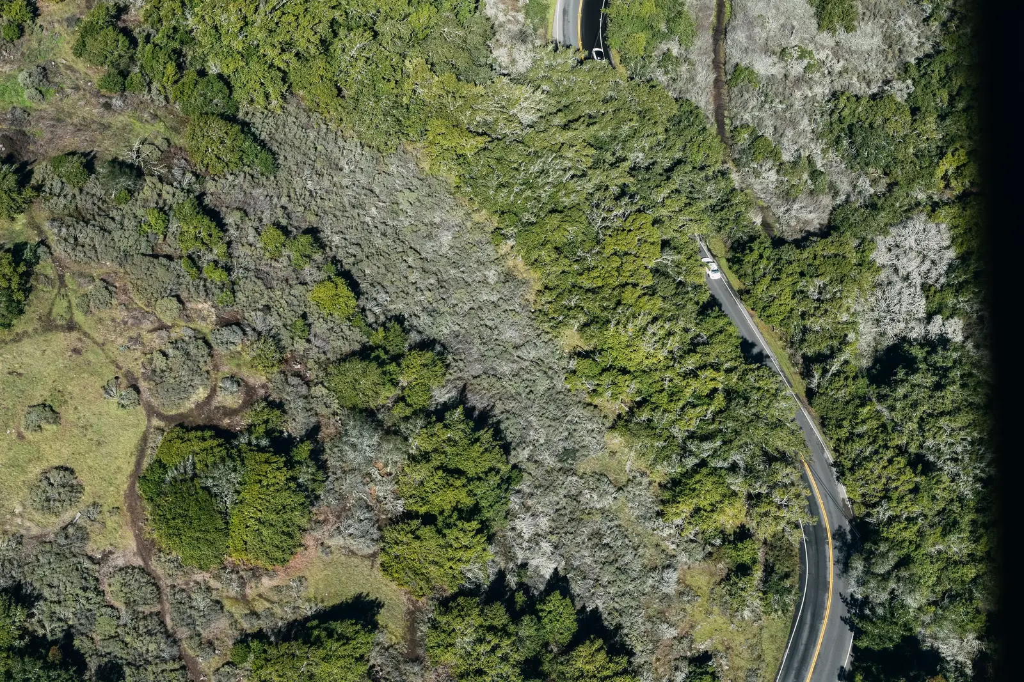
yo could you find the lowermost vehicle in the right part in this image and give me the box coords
[701,258,719,281]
